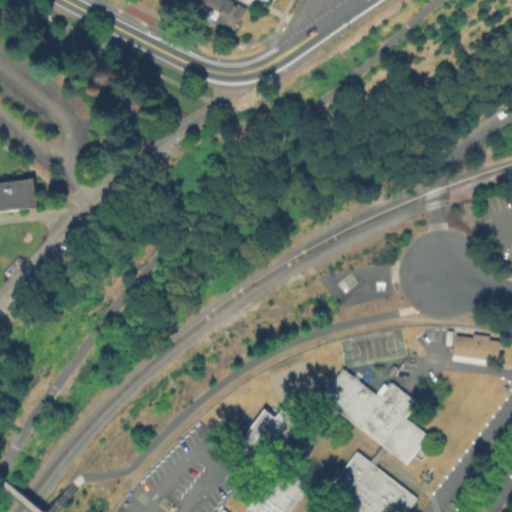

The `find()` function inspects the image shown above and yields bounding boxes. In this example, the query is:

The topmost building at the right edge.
[452,336,502,366]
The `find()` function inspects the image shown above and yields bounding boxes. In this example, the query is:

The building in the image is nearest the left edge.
[0,178,35,208]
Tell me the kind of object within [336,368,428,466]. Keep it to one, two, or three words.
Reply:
building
